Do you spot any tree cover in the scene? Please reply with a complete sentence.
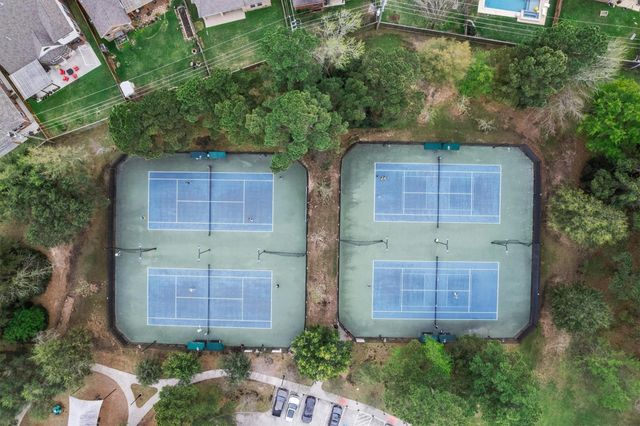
Yes, there is tree cover in the image.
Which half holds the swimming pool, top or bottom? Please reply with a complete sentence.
The swimming pool sits in the top half of the picture.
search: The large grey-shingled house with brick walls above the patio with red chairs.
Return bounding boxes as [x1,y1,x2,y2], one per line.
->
[0,0,85,76]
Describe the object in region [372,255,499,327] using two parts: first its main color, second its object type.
blue tennis court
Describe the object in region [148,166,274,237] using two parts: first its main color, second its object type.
blue tennis court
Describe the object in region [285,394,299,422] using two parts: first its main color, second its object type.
white vehicle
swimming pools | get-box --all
[478,0,547,25]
